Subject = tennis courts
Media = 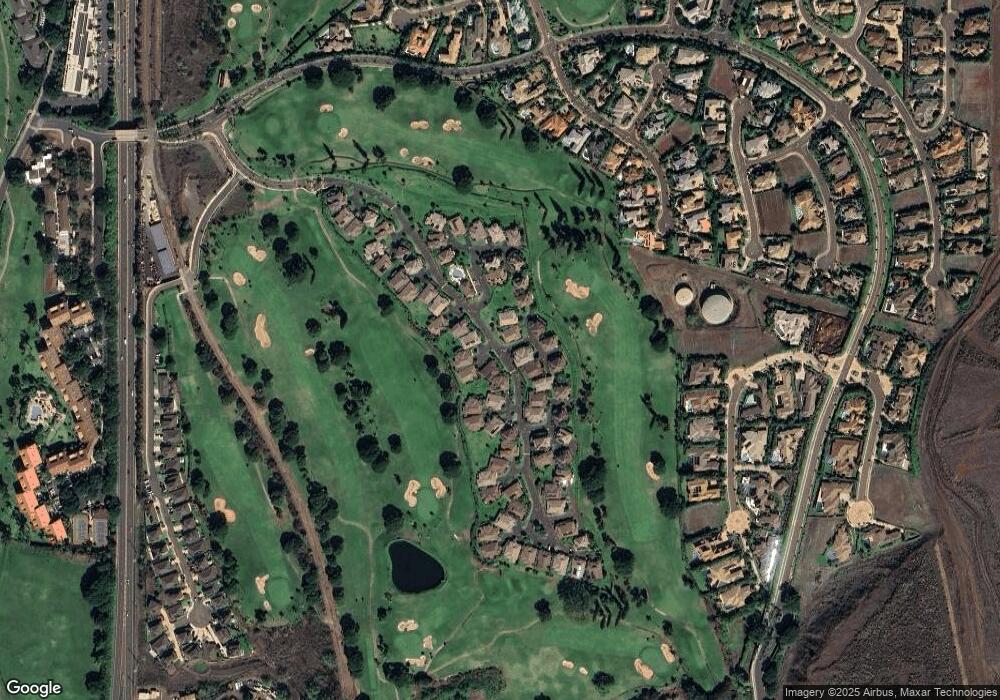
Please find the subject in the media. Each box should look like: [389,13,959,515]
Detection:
[91,515,108,544]
[72,513,91,544]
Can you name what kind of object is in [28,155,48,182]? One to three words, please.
building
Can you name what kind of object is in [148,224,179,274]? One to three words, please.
shed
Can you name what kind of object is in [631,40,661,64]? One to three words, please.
house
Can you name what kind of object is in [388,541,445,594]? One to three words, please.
pond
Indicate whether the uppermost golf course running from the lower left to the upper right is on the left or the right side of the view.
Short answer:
left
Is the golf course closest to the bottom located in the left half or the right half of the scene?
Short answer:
left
